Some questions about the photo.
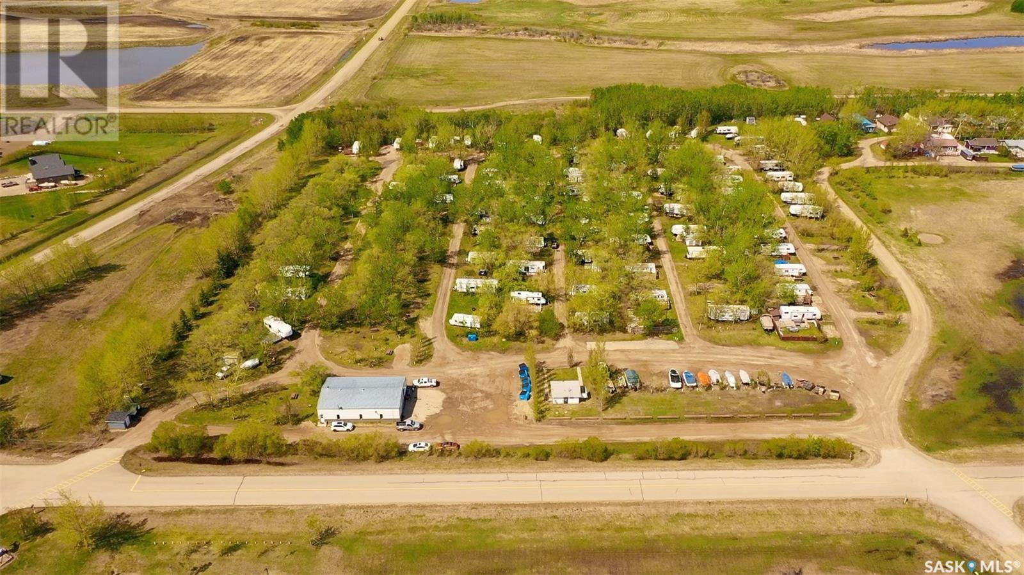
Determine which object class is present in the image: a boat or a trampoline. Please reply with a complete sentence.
I can see a boat in this picture.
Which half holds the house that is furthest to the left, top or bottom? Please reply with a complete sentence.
You can find the house that is furthest to the left in the top half.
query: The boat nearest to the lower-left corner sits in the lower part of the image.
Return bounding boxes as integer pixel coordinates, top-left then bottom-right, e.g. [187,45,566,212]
[235,360,264,372]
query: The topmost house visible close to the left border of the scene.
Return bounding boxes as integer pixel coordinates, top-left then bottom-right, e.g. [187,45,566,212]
[30,156,88,184]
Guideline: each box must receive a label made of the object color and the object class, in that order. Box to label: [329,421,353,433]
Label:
white vehicle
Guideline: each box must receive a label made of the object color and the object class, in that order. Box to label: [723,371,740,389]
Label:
white boat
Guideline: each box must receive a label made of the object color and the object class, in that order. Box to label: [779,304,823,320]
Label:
white vehicle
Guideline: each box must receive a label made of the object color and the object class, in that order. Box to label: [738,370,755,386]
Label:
white boat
